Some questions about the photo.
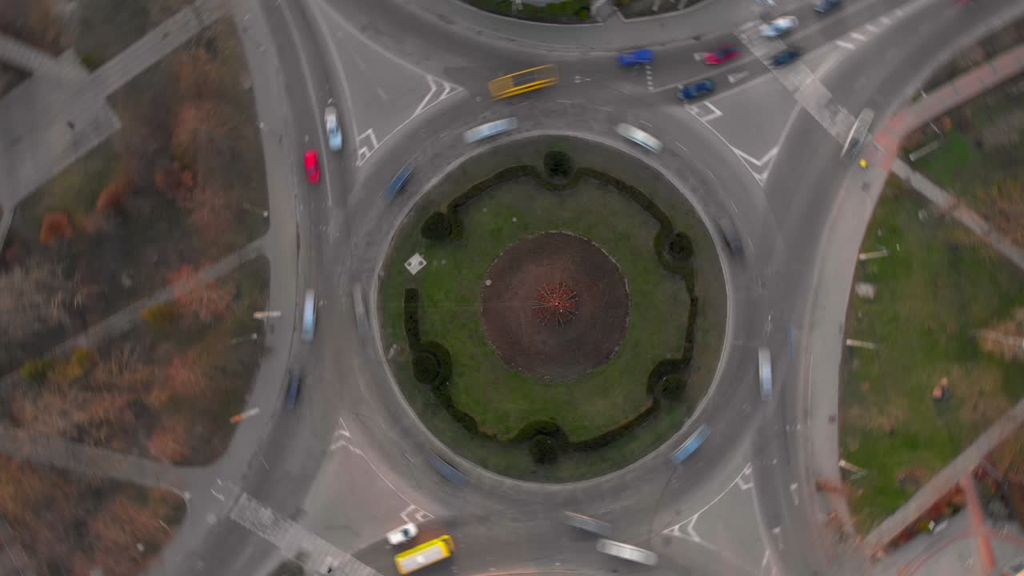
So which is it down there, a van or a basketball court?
van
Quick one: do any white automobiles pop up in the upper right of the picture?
Yes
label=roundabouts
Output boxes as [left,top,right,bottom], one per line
[303,0,802,576]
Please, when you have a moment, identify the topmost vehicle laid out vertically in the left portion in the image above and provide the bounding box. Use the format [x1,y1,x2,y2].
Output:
[322,106,344,151]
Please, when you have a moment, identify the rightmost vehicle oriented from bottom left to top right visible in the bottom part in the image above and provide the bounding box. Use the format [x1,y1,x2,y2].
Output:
[669,424,710,464]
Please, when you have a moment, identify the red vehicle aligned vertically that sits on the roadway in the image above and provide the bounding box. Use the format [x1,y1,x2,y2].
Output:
[303,149,322,184]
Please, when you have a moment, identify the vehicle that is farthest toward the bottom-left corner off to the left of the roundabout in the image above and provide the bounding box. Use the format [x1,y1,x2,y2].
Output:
[283,368,304,407]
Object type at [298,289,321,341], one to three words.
vehicle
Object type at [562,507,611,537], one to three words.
van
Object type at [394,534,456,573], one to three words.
bus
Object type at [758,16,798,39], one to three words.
car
